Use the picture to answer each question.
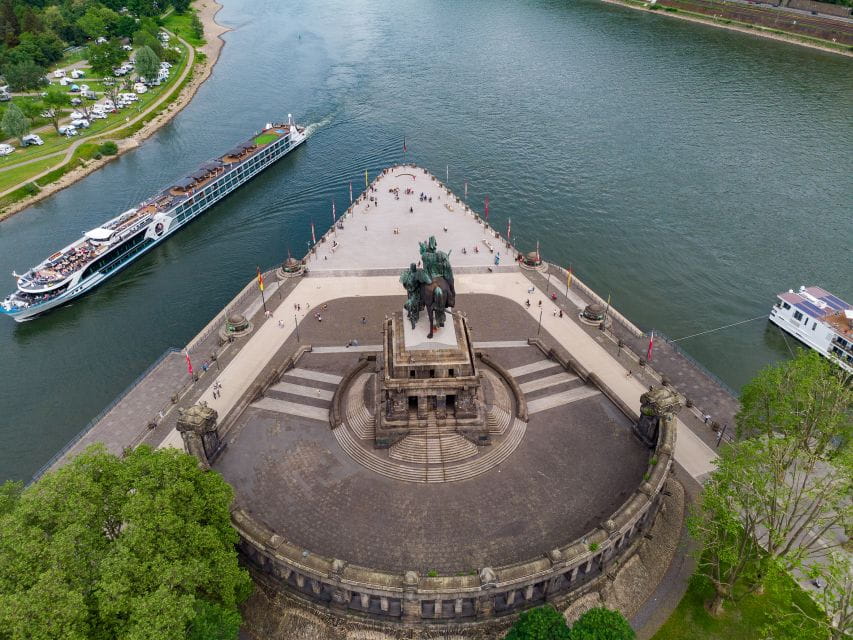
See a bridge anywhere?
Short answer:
No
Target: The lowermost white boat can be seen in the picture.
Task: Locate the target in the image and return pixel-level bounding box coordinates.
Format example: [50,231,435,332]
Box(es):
[771,286,853,369]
